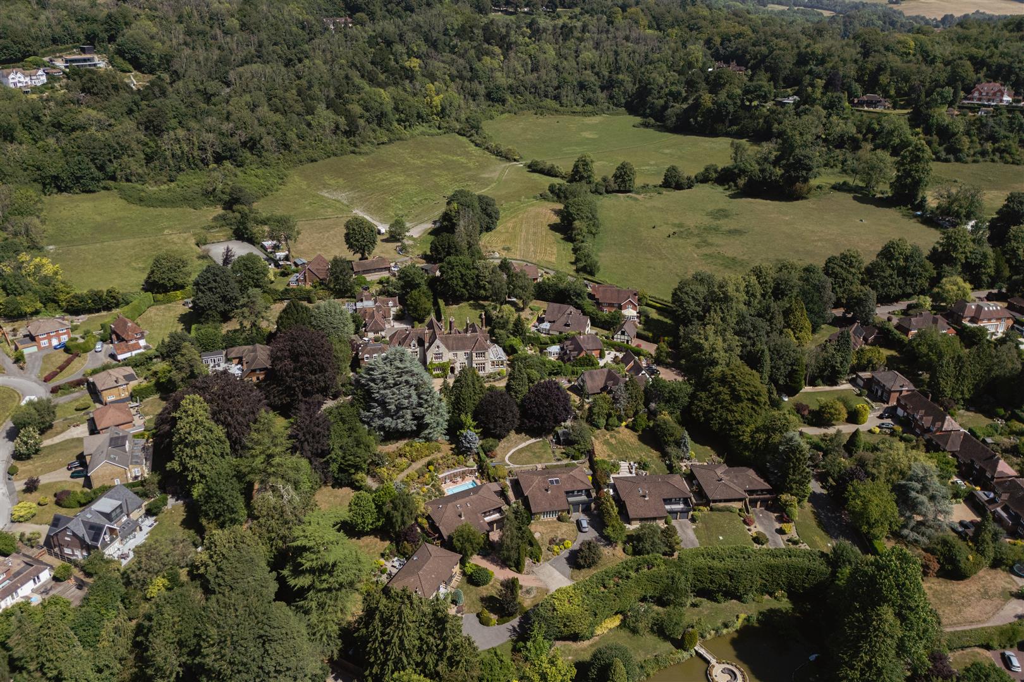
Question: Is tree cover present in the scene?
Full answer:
Yes, there is tree cover in the image.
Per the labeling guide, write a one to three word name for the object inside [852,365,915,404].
house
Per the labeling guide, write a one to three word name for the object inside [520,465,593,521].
house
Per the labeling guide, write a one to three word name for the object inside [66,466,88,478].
vehicle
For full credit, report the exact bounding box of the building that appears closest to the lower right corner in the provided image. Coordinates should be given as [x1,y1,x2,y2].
[966,479,1024,532]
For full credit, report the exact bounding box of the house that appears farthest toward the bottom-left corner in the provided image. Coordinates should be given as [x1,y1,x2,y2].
[0,543,49,606]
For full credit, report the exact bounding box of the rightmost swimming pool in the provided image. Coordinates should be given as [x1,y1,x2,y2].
[445,480,472,497]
